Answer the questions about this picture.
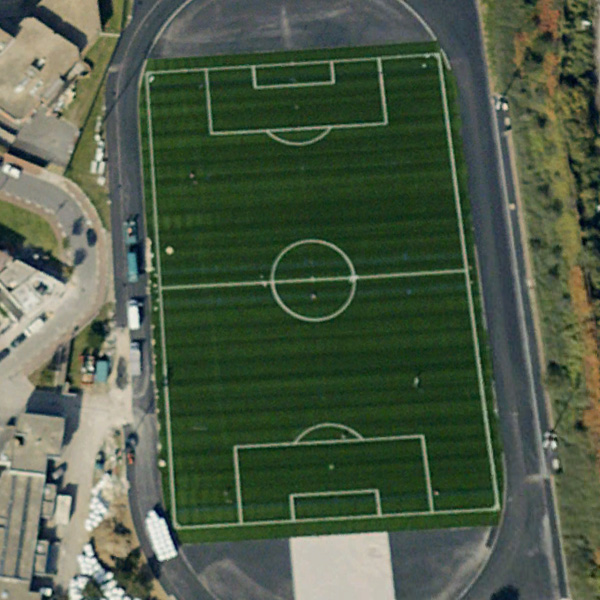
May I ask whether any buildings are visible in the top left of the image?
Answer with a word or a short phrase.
Yes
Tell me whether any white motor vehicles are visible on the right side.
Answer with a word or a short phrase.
No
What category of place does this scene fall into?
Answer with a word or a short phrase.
sports ground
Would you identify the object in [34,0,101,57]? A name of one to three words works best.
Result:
building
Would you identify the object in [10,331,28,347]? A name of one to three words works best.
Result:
car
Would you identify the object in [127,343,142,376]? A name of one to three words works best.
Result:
vehicle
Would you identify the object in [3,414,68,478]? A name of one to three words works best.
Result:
building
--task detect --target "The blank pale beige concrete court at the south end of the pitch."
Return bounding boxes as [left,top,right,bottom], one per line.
[290,532,396,600]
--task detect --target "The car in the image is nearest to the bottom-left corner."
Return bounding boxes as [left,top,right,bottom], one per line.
[50,464,64,479]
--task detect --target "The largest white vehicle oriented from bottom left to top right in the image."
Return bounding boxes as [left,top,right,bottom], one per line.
[24,313,47,335]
